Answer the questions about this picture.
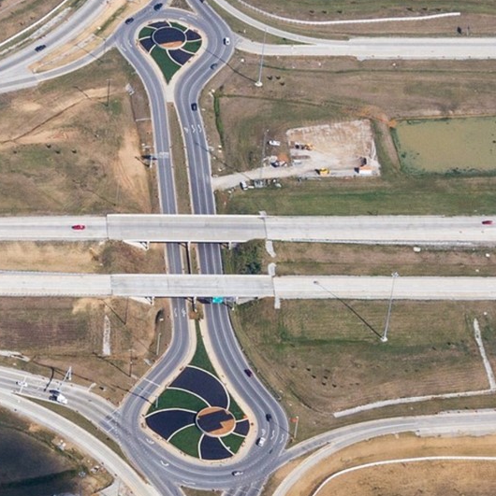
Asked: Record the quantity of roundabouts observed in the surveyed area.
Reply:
2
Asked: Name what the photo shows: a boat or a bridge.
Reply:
bridge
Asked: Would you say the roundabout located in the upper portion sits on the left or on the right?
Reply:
left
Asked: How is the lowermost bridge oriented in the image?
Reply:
from left to right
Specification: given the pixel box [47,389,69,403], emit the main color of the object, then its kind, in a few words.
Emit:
white vehicle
